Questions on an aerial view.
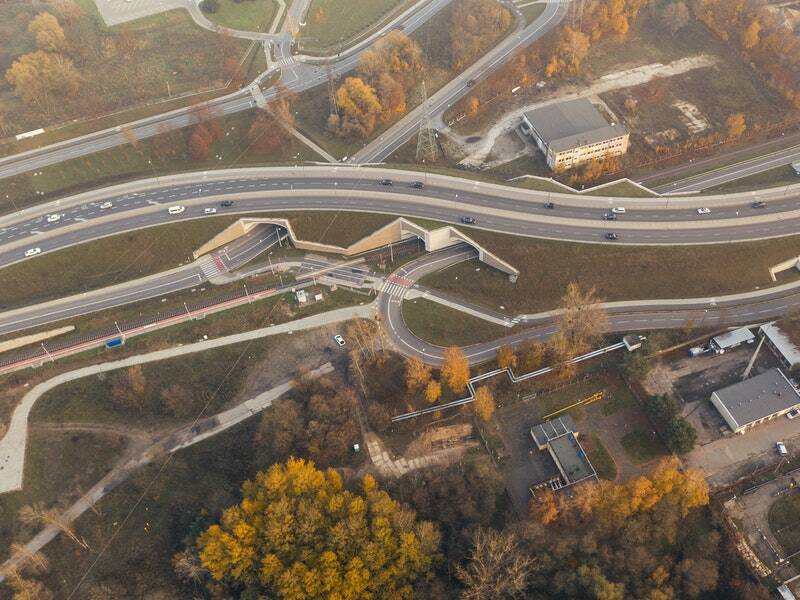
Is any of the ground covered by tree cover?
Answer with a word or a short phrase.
Yes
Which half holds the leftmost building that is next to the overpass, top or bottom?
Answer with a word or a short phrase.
top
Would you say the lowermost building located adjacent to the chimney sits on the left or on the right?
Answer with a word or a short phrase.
right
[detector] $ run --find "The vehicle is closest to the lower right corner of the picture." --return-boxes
[774,438,790,460]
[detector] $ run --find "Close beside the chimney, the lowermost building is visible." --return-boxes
[706,373,800,442]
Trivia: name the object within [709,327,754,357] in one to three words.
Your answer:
shed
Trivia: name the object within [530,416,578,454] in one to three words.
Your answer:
building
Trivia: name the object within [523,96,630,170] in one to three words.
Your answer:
building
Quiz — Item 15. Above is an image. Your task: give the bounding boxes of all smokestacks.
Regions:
[740,334,766,380]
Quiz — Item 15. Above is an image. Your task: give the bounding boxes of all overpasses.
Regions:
[0,166,800,269]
